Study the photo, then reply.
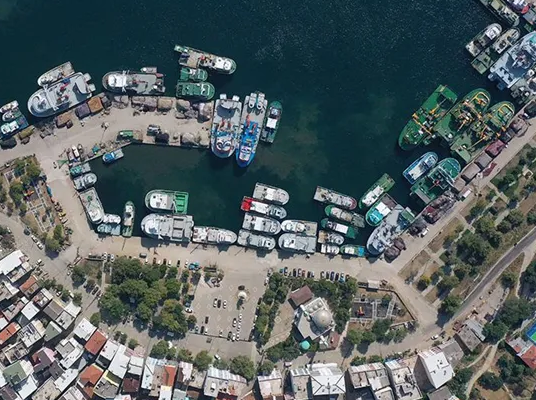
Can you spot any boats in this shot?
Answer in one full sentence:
Yes, the photo shows a boat.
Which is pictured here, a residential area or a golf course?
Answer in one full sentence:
This looks like a residential area.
